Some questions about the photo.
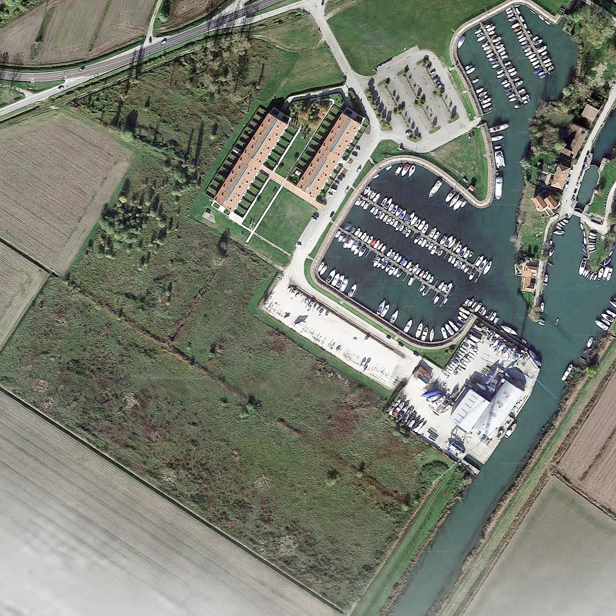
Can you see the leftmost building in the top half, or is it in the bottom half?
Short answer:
top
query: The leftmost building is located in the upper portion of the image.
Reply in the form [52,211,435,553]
[214,104,293,212]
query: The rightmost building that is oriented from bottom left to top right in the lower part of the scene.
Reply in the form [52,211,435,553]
[477,379,527,441]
